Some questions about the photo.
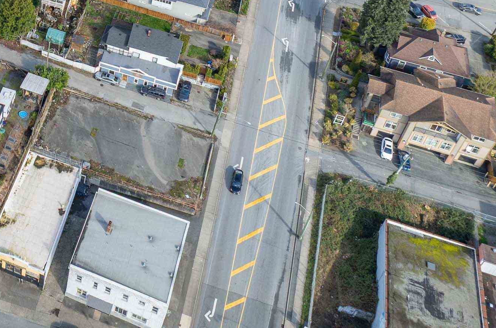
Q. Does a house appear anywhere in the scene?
Yes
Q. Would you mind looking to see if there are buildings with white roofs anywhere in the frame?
Yes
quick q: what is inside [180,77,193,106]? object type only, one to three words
vehicle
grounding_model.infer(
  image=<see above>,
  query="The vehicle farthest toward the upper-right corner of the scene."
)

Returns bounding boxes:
[455,2,484,19]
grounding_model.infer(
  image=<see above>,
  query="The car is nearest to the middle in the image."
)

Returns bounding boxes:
[230,169,244,198]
